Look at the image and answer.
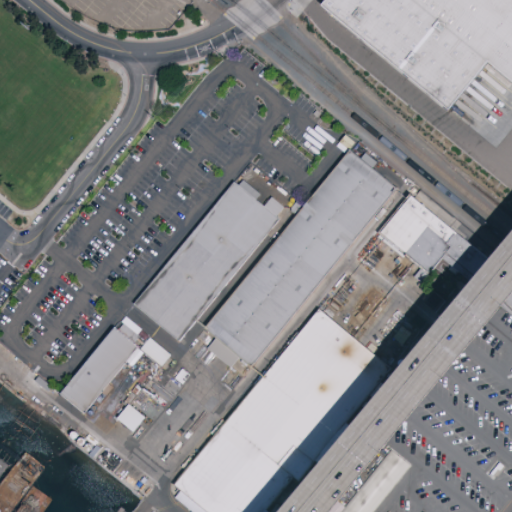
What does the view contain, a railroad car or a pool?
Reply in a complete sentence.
The one in the frame is a railroad car.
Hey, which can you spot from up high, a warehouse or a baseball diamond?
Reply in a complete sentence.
The one in the frame is a warehouse.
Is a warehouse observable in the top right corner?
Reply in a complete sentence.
Yes, a warehouse appears in the top right corner.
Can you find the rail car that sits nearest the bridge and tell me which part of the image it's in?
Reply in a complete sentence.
The rail car that sits nearest the bridge is located in the right region of the scene.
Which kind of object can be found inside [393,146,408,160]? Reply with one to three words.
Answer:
rail car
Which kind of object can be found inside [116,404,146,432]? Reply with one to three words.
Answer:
shed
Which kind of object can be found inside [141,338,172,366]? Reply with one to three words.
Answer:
shed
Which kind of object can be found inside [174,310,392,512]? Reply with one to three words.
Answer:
warehouse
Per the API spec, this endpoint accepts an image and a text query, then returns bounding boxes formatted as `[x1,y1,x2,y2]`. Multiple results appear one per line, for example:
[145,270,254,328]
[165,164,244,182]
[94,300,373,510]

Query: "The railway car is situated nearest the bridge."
[462,203,488,226]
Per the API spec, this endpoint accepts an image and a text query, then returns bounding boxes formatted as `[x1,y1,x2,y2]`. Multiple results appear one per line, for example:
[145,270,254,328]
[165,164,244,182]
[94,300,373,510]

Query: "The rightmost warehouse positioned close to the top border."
[320,0,512,110]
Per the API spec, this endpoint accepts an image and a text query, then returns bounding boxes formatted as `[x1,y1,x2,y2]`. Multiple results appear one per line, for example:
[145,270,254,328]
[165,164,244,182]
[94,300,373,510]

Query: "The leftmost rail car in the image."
[350,111,382,138]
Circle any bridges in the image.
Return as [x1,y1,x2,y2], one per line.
[279,230,512,512]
